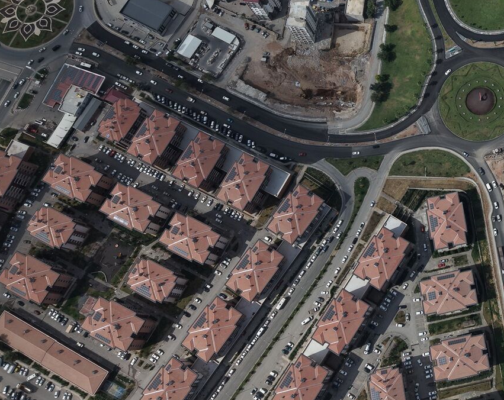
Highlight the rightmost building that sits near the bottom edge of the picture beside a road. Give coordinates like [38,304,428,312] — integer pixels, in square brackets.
[430,335,490,380]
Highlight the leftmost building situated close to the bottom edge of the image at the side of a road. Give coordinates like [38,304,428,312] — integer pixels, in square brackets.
[0,310,116,397]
